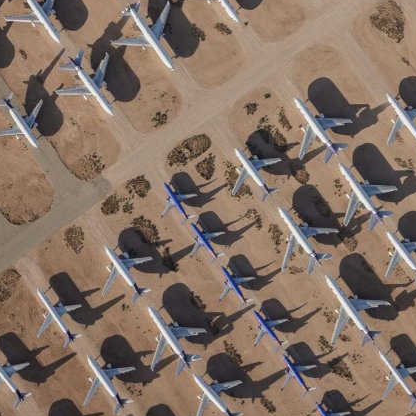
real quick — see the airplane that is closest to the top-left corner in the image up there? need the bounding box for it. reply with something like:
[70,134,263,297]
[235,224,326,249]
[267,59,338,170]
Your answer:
[3,0,59,43]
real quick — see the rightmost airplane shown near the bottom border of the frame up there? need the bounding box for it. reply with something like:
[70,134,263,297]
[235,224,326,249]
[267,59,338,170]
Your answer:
[379,352,416,408]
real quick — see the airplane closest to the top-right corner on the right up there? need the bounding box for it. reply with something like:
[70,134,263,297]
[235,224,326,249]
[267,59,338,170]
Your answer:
[385,94,416,154]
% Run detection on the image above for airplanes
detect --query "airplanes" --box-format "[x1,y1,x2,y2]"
[199,0,238,22]
[0,360,31,406]
[3,0,59,43]
[193,374,242,416]
[383,232,416,285]
[254,312,288,351]
[190,223,224,263]
[282,355,317,397]
[82,355,135,414]
[278,208,339,275]
[294,98,353,163]
[53,51,113,115]
[385,94,416,154]
[103,246,153,302]
[379,352,416,408]
[232,149,280,202]
[148,307,205,373]
[325,276,390,349]
[338,163,397,229]
[109,0,173,69]
[161,183,197,224]
[0,94,41,147]
[37,289,82,347]
[219,266,255,309]
[316,403,350,416]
